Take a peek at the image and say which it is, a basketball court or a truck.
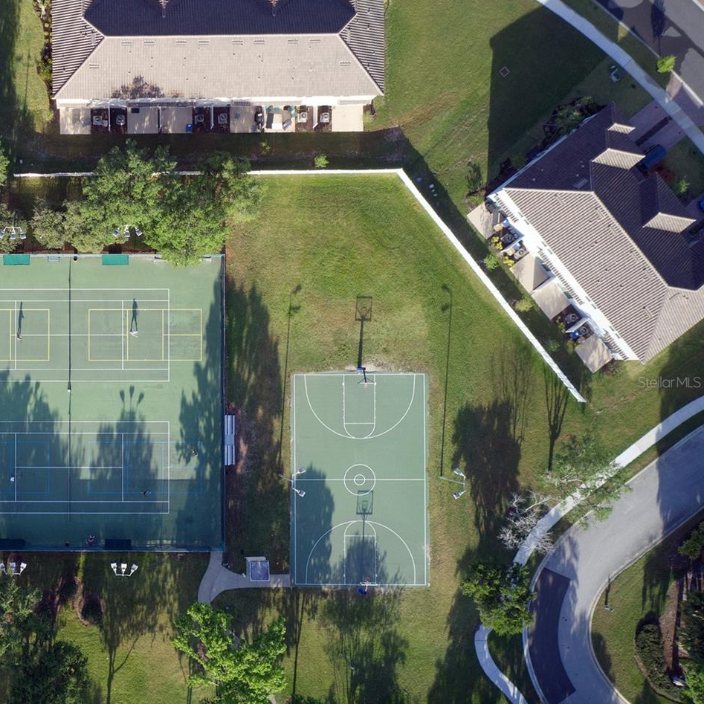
basketball court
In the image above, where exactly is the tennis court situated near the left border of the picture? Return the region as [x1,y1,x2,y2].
[0,258,222,547]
